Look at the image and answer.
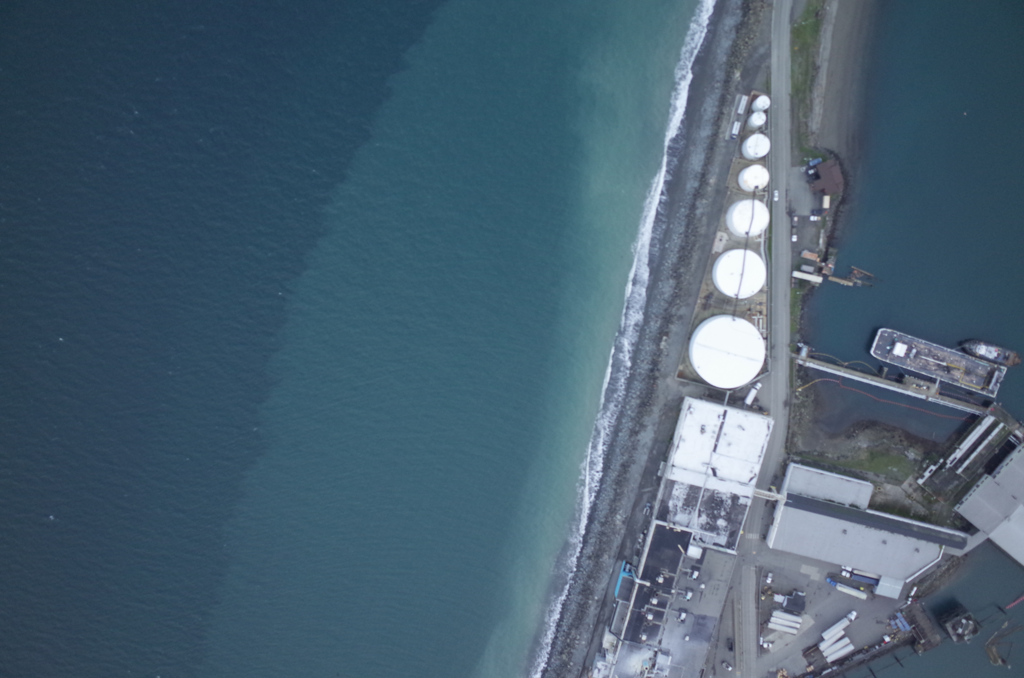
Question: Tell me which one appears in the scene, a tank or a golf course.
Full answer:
This aerial view contains a tank.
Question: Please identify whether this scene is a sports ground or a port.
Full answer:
The area seen from above is a port.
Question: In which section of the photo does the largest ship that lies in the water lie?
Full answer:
You can find the largest ship that lies in the water in the right area of the picture.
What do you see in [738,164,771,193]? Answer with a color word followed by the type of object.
white storage tank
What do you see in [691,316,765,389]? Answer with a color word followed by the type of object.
white storage tank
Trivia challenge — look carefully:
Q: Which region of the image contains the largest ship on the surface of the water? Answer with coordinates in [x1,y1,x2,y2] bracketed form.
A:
[869,328,1007,397]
